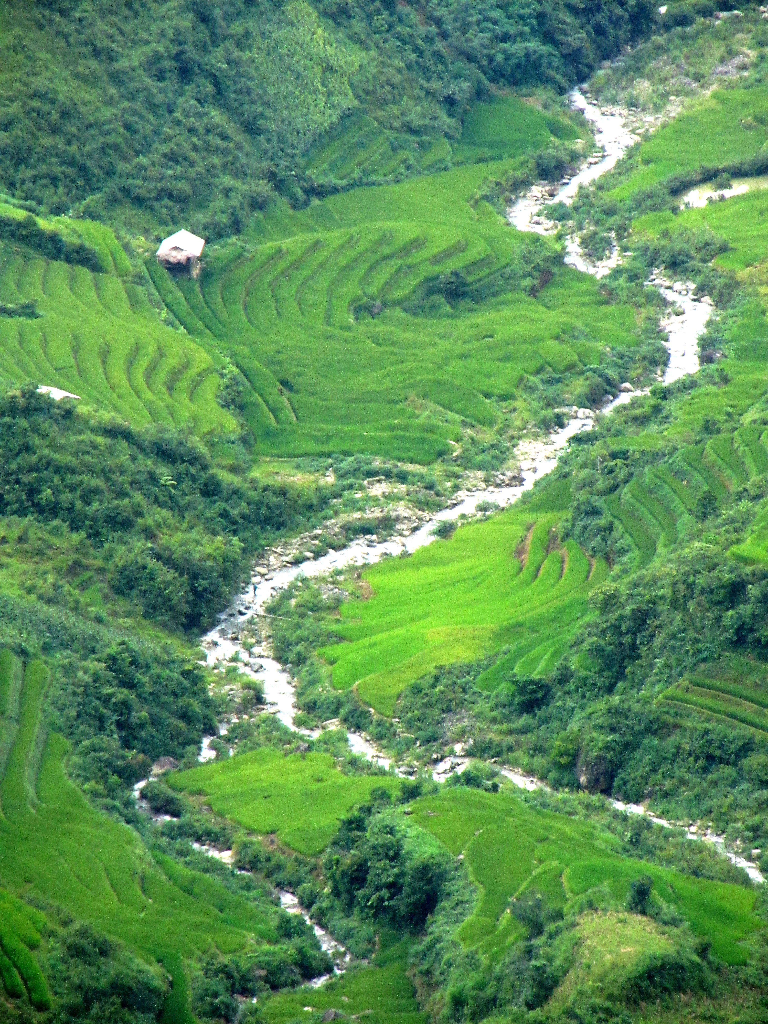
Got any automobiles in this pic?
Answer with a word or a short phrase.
No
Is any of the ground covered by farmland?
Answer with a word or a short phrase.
Yes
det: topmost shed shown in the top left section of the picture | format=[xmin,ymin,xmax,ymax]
[156,237,206,283]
